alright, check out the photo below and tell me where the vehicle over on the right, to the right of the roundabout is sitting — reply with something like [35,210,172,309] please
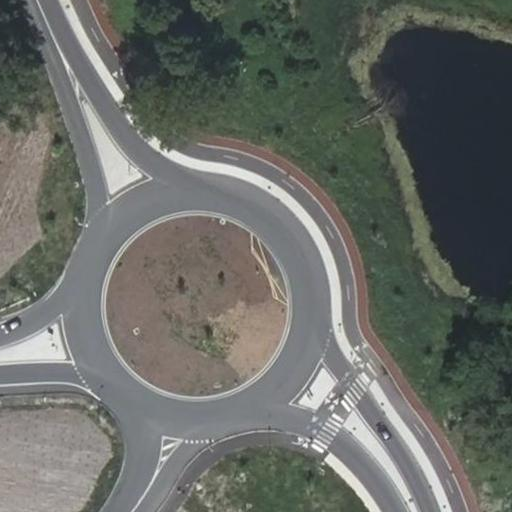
[376,422,392,441]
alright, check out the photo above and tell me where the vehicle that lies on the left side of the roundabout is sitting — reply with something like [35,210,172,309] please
[2,318,20,332]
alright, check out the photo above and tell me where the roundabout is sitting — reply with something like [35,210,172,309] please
[59,168,339,478]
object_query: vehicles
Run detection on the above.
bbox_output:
[2,318,20,332]
[376,422,392,441]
